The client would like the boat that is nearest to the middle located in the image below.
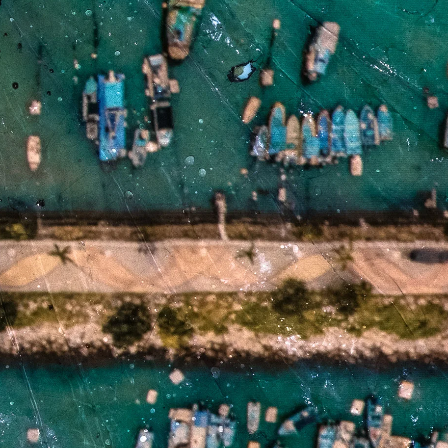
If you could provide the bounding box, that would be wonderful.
[252,125,270,162]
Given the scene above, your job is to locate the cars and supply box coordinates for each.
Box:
[405,247,448,265]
